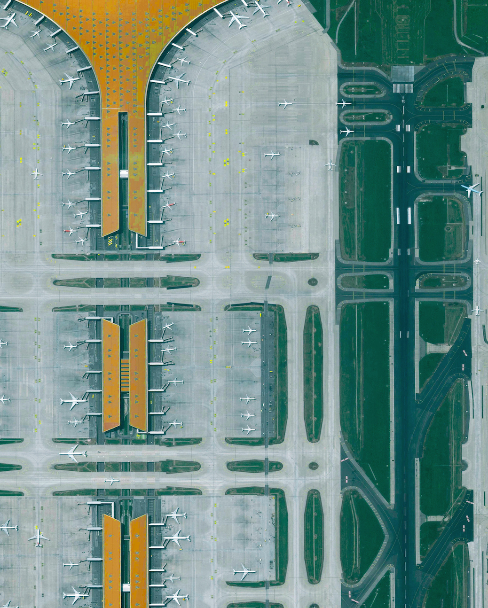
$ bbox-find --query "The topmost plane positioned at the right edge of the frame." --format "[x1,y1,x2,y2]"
[462,182,483,198]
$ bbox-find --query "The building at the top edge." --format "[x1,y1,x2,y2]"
[17,0,226,237]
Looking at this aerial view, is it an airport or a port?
airport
